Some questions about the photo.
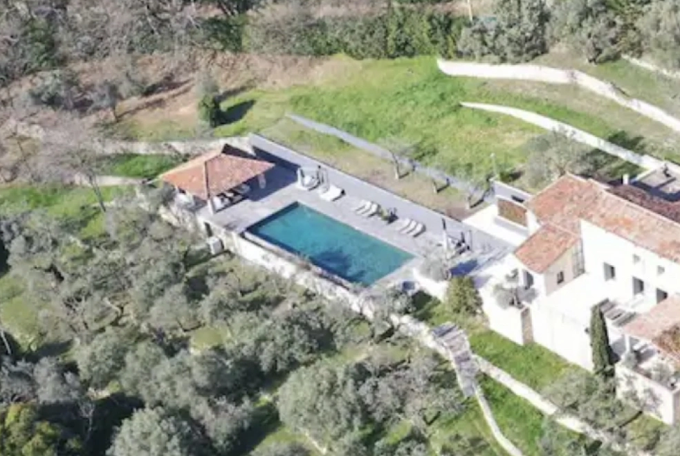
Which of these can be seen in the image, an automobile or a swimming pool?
swimming pool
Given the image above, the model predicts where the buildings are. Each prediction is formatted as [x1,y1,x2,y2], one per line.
[162,142,276,224]
[515,171,680,370]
